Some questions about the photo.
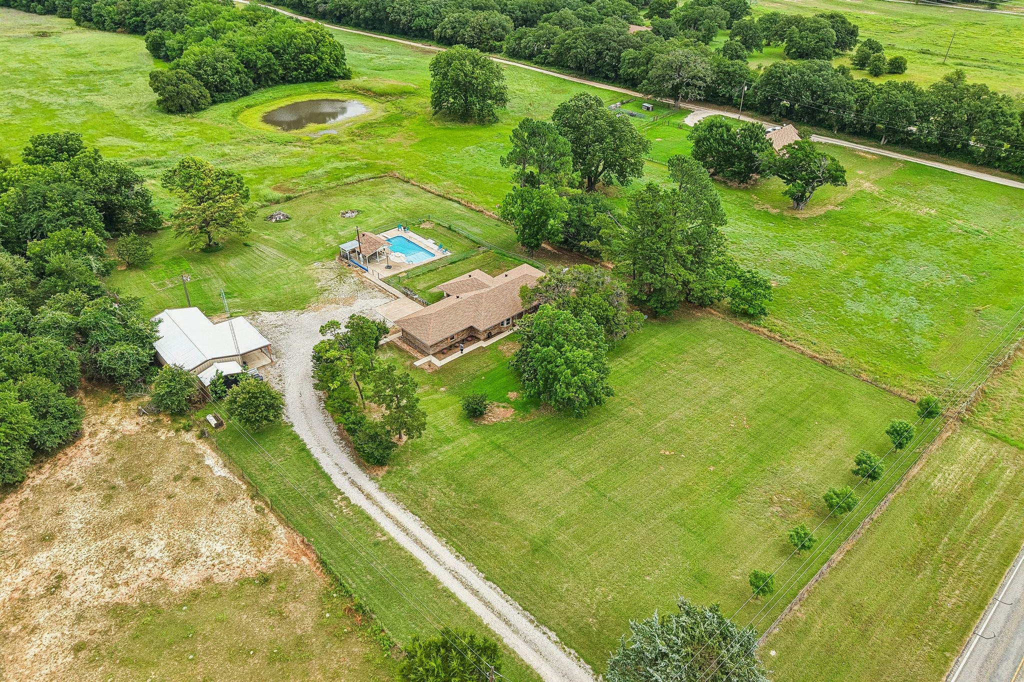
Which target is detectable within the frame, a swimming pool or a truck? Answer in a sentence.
Visible in the photo is a swimming pool.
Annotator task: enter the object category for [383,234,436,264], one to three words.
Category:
swimming pool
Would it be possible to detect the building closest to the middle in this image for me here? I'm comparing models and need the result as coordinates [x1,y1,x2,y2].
[394,263,572,354]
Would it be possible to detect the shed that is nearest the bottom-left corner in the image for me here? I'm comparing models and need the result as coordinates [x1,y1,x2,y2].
[155,304,273,400]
